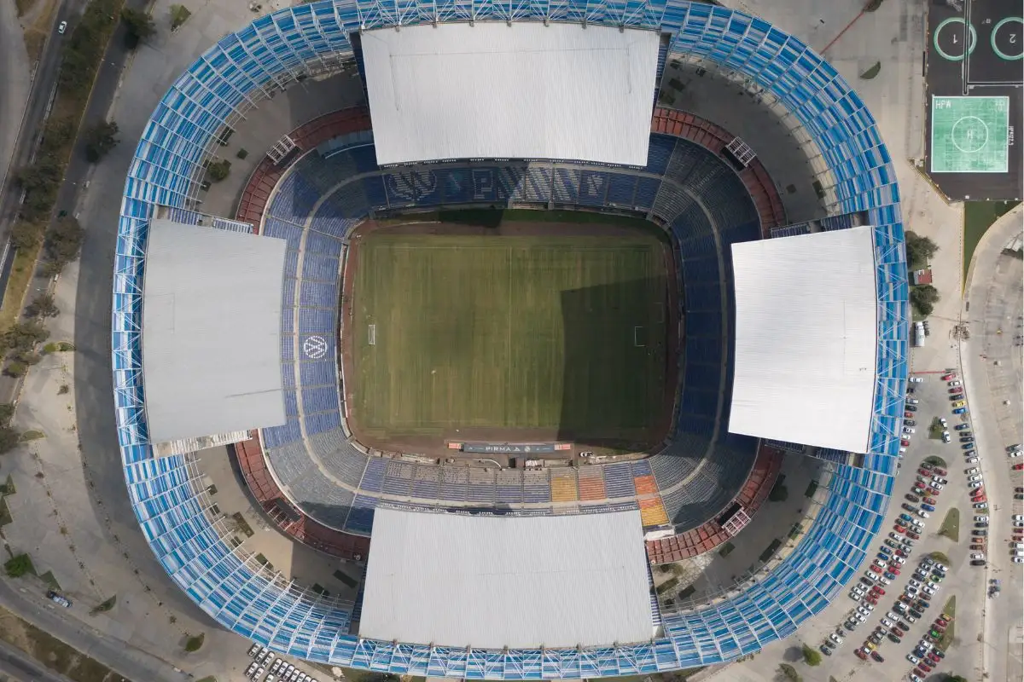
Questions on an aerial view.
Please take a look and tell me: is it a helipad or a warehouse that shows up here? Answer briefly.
helipad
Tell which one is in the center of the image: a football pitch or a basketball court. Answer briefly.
football pitch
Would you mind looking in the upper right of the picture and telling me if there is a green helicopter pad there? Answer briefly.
Yes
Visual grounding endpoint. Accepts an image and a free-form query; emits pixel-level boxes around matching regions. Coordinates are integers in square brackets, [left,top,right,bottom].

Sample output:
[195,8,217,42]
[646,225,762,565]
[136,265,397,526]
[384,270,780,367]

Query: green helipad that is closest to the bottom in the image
[931,95,1014,173]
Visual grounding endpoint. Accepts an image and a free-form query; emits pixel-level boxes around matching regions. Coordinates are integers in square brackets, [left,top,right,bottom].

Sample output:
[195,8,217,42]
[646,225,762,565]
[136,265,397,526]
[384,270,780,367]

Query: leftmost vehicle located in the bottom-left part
[49,591,69,607]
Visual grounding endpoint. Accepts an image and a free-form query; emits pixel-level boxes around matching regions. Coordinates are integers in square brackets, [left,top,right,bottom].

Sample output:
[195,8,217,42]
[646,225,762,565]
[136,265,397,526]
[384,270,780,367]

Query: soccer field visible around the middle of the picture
[340,208,680,465]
